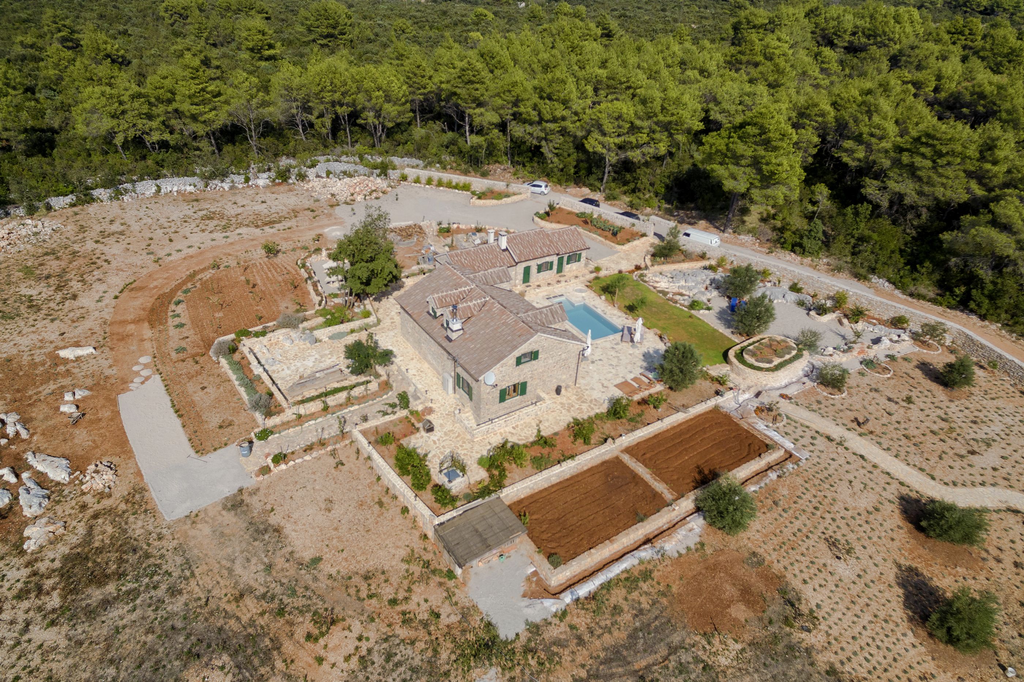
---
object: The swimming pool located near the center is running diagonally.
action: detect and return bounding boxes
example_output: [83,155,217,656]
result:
[548,294,629,342]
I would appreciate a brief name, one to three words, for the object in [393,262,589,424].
house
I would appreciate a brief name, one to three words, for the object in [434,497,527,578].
shed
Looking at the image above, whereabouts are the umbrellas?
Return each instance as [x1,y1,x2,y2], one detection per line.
[583,334,591,361]
[630,321,640,348]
